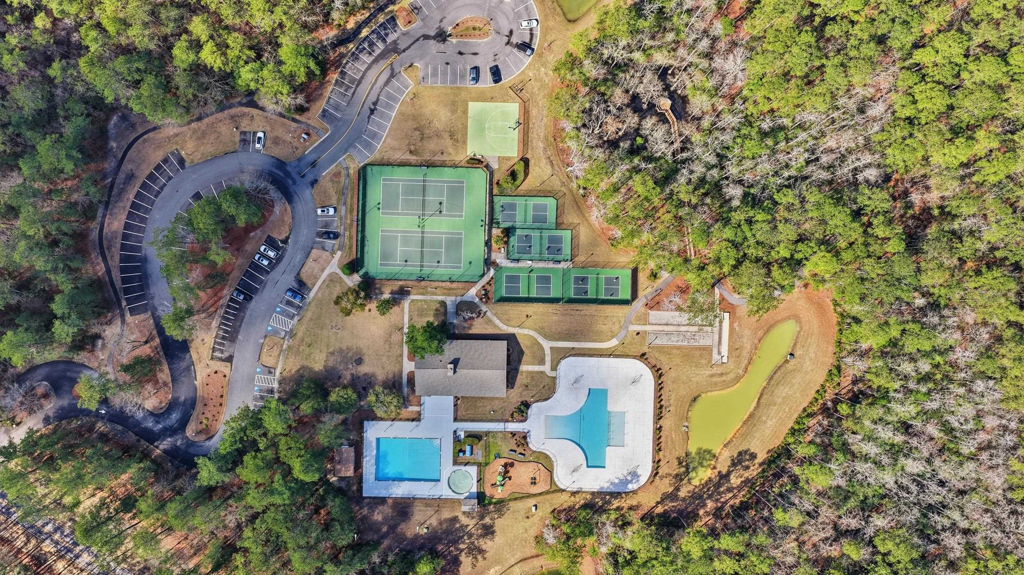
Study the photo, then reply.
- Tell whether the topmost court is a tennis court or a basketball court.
basketball court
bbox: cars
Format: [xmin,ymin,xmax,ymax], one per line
[260,245,277,258]
[520,18,538,28]
[254,254,270,266]
[490,65,501,83]
[233,290,248,302]
[321,232,339,240]
[286,289,302,301]
[317,207,335,215]
[470,66,478,84]
[256,131,265,149]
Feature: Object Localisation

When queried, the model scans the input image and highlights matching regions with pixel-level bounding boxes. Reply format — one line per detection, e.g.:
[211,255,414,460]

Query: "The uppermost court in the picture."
[467,102,519,156]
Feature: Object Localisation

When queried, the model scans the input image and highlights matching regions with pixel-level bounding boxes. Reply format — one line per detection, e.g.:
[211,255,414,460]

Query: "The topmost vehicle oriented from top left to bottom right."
[516,41,535,56]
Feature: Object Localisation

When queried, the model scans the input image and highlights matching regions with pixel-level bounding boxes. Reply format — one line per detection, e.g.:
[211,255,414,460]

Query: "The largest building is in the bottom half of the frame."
[415,339,507,397]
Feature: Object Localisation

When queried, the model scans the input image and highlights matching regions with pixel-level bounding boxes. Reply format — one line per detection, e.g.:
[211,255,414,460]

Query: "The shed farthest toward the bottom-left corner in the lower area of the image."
[334,446,355,477]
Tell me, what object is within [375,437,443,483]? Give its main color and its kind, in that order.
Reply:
blue swimming pool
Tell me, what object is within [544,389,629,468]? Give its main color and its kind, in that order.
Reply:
blue swimming pool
